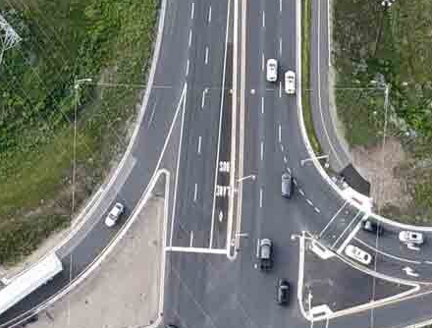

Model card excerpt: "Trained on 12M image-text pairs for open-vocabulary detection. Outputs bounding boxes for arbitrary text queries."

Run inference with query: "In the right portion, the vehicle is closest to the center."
[281,172,293,199]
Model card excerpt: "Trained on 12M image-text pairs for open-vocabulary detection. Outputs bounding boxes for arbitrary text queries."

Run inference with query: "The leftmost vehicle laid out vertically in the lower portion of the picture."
[259,239,271,271]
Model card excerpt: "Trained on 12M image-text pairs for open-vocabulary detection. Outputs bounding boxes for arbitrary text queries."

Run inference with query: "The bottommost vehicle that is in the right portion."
[278,279,290,307]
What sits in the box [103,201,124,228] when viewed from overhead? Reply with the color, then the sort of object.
white car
